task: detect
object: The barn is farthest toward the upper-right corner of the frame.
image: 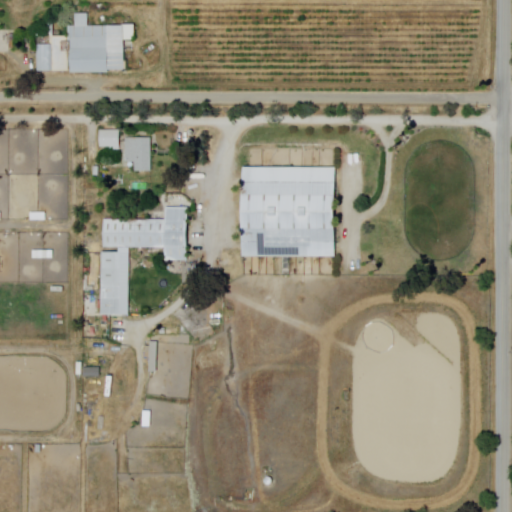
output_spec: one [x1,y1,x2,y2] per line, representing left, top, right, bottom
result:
[240,166,336,256]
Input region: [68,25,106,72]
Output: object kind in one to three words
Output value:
shed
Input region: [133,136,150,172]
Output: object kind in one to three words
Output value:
house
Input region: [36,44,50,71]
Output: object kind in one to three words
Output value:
shed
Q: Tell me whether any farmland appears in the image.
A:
Yes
